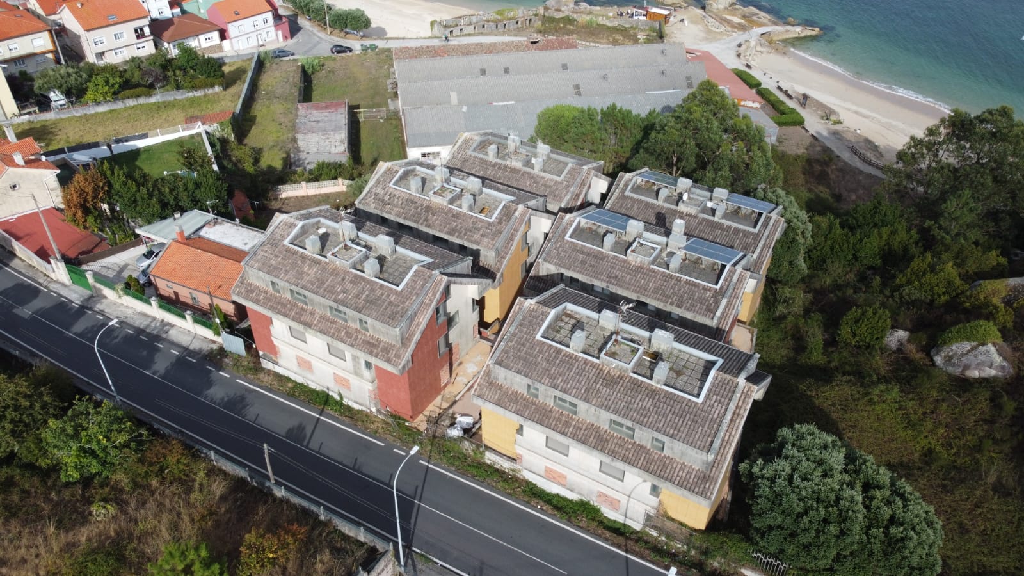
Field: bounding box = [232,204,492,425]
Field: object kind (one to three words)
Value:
building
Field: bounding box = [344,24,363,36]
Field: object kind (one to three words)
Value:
vehicle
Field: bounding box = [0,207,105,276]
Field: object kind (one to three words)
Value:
shed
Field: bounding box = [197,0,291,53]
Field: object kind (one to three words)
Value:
house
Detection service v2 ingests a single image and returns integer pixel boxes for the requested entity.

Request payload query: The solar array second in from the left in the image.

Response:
[639,167,681,201]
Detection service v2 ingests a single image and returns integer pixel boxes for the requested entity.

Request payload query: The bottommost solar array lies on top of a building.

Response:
[681,234,739,277]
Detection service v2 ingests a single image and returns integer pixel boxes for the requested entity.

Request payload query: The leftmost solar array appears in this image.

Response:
[581,204,631,247]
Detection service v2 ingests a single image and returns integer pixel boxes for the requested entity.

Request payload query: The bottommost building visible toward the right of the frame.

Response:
[472,281,770,562]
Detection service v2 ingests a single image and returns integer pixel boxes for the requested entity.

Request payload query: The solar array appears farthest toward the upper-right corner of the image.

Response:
[725,190,774,223]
